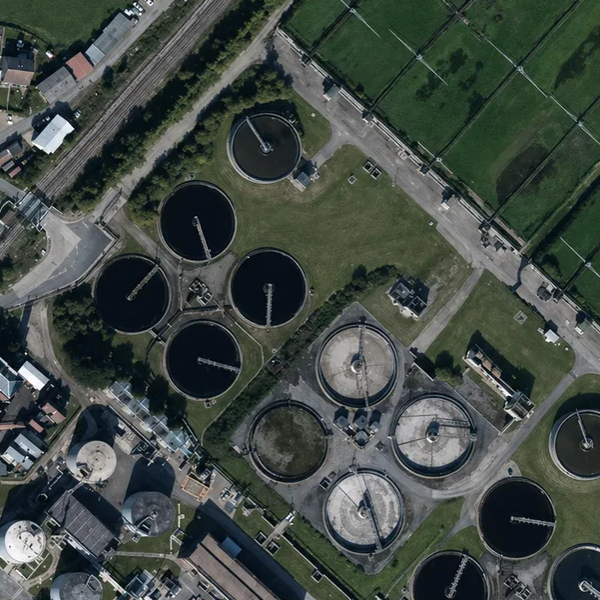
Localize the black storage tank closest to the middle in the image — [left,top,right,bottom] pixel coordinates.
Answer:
[227,247,310,330]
